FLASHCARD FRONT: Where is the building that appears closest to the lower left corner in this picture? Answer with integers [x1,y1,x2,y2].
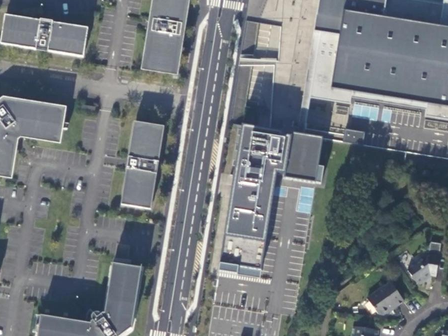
[34,260,144,336]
